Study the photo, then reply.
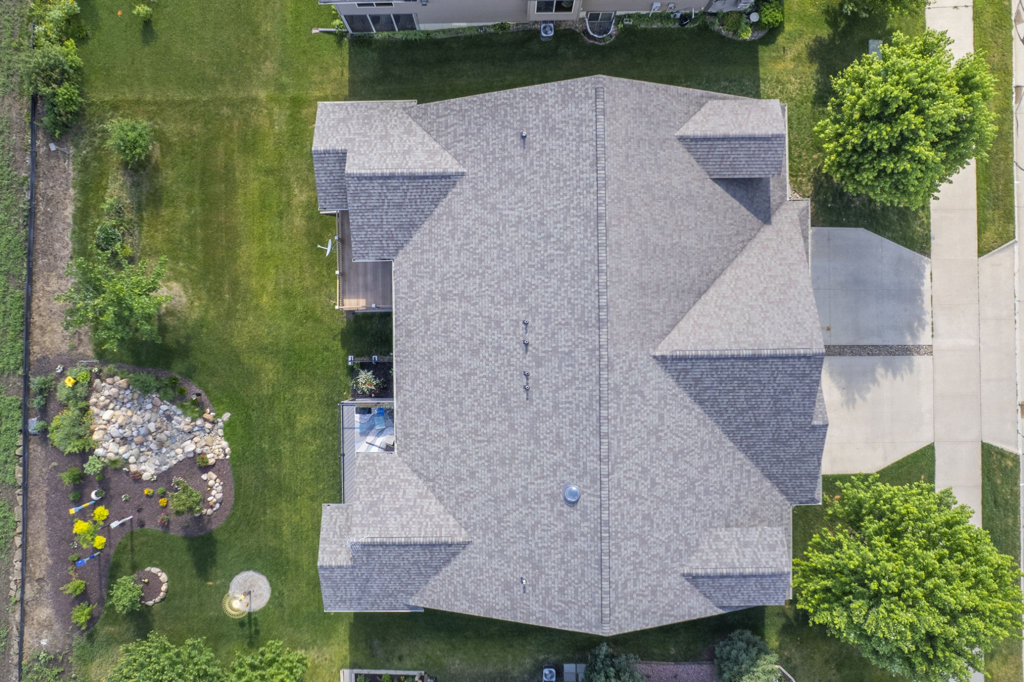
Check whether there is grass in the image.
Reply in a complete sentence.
Yes, there is grass in the image.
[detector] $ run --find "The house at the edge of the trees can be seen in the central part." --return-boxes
[313,75,830,636]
